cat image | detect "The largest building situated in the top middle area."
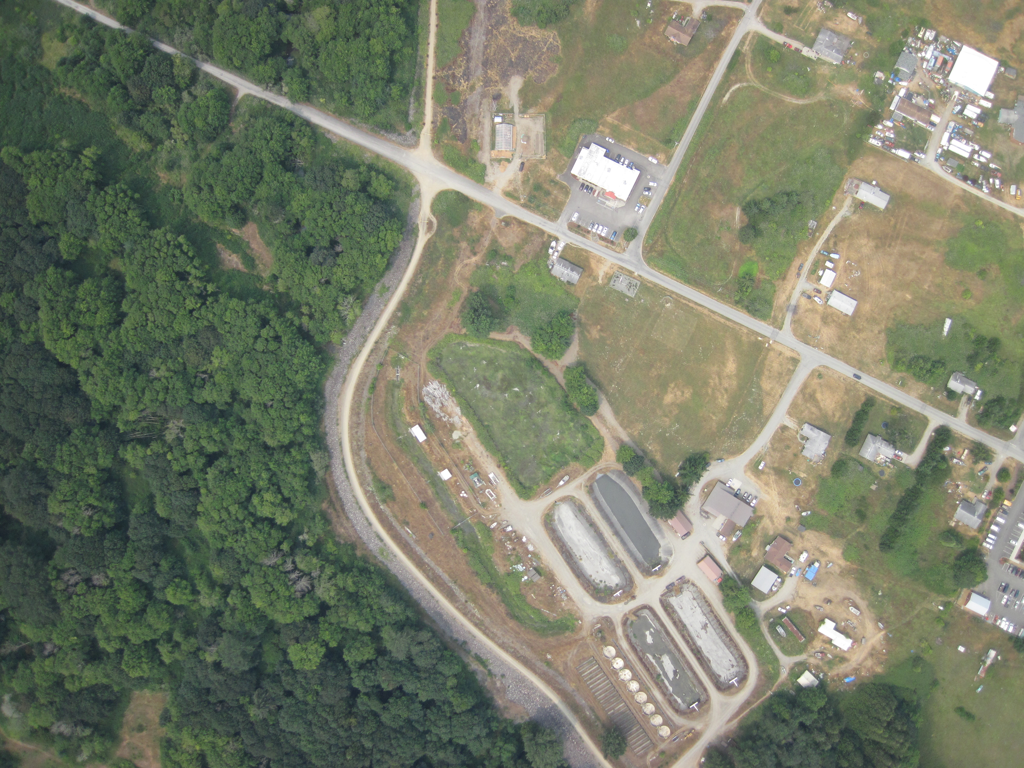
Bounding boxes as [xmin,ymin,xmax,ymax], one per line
[571,143,640,204]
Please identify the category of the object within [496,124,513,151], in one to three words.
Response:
greenhouse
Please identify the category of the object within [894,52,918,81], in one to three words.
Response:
shed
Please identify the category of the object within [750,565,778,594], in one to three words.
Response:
barn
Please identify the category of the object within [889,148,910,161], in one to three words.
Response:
vehicle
